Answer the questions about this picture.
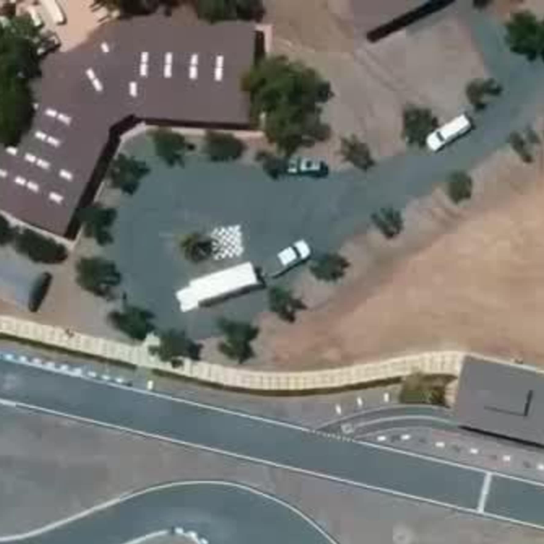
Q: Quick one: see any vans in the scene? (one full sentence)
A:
Yes, this view includes a van.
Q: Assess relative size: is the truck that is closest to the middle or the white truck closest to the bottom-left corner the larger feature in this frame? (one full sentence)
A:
Of the two, the white truck closest to the bottom-left corner is larger and the truck that is closest to the middle is the smaller one.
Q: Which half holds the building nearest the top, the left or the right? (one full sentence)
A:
The building nearest the top is on the right side of the image.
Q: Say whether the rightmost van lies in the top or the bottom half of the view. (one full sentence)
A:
The rightmost van is in the top half of the image.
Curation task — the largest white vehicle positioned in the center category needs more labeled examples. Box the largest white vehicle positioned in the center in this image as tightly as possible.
[179,262,262,309]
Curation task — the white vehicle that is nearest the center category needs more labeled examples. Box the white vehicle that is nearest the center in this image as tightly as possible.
[274,238,314,269]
